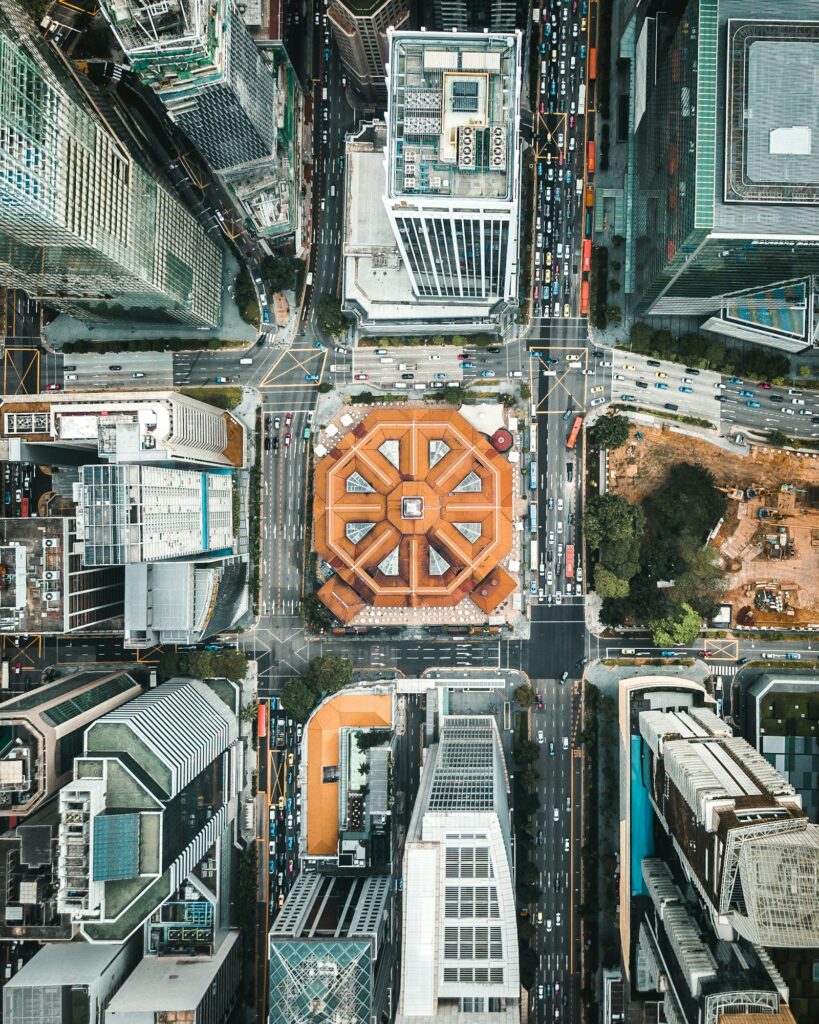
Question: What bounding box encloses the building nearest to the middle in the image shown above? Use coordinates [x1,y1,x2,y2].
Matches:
[314,409,511,606]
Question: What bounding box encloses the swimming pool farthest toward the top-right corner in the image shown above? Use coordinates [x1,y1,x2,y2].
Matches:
[728,284,804,336]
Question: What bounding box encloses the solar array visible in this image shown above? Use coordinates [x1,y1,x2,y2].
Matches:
[104,811,139,880]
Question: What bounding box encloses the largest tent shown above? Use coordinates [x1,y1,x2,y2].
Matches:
[458,403,504,434]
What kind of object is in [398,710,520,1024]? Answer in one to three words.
building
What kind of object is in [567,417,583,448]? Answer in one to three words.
vehicle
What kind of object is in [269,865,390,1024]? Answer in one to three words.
building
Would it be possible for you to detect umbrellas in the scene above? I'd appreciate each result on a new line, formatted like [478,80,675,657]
[489,616,504,625]
[513,593,521,608]
[513,520,524,531]
[508,451,519,462]
[314,444,327,457]
[507,560,519,572]
[324,423,339,437]
[340,414,354,428]
[508,419,518,429]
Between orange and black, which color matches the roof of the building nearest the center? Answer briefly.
orange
